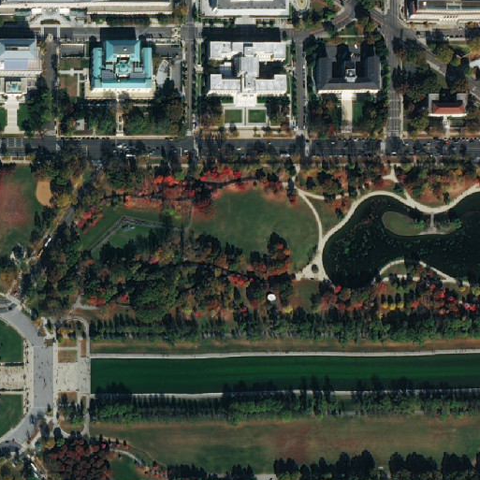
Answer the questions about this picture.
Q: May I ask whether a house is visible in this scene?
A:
Yes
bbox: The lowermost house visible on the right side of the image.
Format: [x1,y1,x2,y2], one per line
[428,93,467,127]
